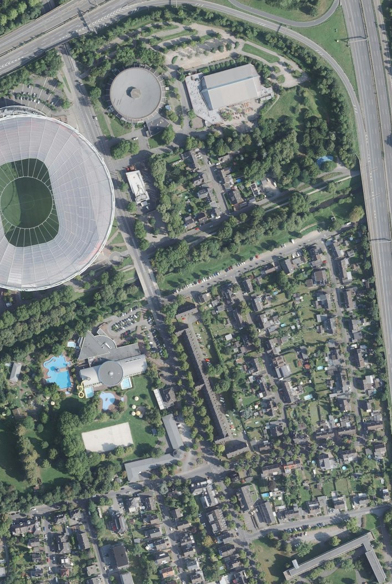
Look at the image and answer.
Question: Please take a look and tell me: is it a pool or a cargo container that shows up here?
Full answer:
This aerial view contains a pool.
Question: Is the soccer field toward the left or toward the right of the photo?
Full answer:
The soccer field is on the left side of the image.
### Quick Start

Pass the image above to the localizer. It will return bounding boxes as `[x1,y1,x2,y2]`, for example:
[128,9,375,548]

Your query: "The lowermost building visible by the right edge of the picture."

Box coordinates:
[285,531,389,584]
